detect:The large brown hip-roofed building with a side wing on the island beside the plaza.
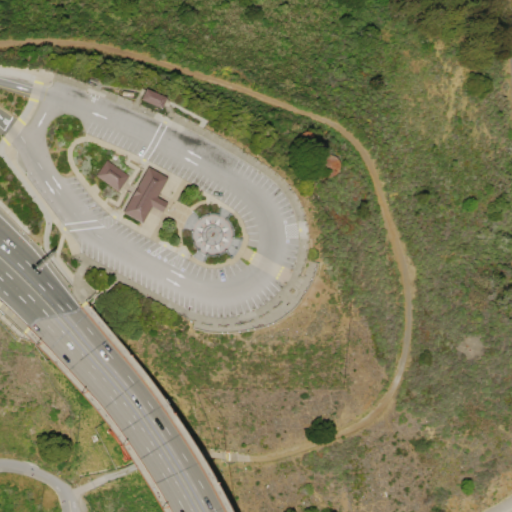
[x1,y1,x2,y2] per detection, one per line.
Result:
[124,166,168,220]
